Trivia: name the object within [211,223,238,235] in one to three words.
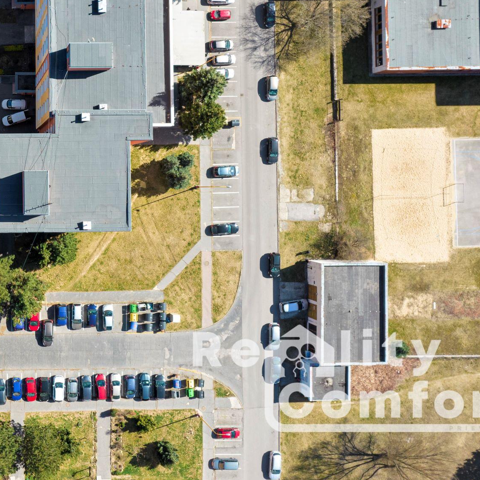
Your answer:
vehicle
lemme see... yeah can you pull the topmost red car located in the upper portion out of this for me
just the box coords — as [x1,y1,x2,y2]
[208,8,232,22]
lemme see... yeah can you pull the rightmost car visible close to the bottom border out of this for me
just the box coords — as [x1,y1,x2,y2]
[267,451,283,479]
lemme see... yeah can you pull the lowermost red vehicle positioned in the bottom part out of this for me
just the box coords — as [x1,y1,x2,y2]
[214,426,240,440]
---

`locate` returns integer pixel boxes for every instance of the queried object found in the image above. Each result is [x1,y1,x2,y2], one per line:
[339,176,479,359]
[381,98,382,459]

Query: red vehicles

[94,372,108,400]
[208,8,232,22]
[214,426,240,440]
[28,309,41,334]
[25,377,36,401]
